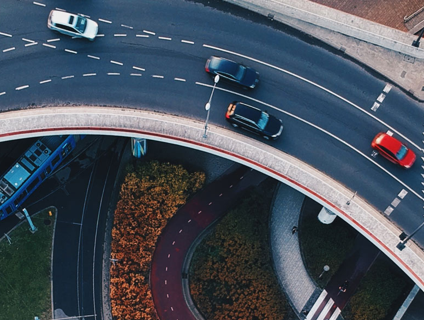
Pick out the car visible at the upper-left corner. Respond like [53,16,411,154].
[47,7,101,43]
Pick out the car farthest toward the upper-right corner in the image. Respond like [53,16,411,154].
[370,132,419,170]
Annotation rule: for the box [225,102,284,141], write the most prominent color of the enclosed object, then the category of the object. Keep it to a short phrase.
black car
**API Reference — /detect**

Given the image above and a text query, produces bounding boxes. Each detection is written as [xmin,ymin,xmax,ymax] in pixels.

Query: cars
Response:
[47,7,101,43]
[225,102,284,141]
[205,57,261,92]
[370,132,419,170]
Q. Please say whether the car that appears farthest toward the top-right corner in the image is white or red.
red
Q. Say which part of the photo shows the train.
left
